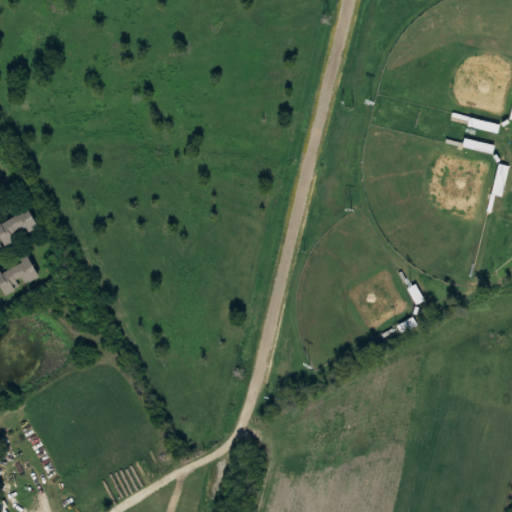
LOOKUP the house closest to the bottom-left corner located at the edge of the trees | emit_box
[0,256,40,296]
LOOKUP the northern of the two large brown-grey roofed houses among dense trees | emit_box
[0,210,35,246]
